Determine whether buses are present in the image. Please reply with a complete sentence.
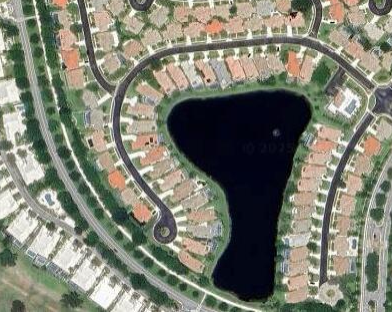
No, I can't see a single bus in this photo.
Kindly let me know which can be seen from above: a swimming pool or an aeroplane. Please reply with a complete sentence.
I can see a swimming pool in this picture.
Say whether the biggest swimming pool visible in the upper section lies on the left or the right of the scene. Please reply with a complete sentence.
The biggest swimming pool visible in the upper section sits on the right side.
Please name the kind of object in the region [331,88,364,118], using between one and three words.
swimming pool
